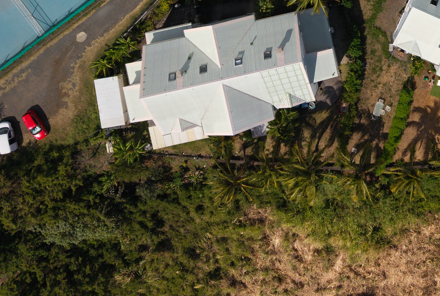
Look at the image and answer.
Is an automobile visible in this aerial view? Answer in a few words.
Yes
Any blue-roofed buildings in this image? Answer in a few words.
No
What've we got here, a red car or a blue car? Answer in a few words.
red car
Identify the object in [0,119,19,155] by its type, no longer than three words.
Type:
vehicle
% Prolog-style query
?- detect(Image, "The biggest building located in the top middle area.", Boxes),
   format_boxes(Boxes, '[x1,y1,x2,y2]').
[123,7,339,136]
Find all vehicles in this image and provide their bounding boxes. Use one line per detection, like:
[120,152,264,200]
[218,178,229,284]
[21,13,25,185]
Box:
[0,119,19,155]
[24,108,49,140]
